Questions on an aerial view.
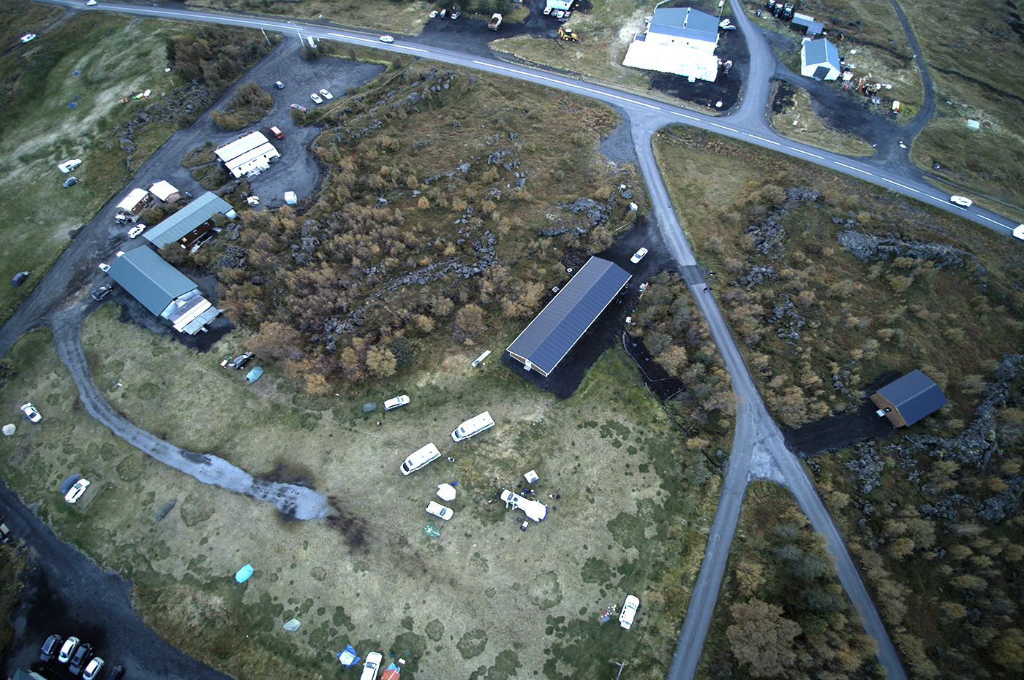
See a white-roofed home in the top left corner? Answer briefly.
Yes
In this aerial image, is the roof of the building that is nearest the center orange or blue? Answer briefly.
blue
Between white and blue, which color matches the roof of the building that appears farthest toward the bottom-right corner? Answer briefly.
blue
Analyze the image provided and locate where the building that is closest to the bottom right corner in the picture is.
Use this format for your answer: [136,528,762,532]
[874,369,950,430]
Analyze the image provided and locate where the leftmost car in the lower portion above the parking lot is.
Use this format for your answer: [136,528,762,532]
[15,394,43,426]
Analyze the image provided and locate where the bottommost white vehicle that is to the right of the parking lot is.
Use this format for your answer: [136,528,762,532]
[361,652,381,680]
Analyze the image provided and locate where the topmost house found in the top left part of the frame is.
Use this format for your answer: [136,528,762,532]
[214,130,284,179]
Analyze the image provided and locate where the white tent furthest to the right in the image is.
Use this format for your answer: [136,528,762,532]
[522,497,548,523]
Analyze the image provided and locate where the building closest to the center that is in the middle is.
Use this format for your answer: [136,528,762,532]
[506,256,631,381]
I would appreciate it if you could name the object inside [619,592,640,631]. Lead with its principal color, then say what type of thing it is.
white vehicle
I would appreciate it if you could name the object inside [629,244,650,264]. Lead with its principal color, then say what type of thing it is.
white car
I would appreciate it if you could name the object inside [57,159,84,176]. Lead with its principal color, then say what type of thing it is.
white camper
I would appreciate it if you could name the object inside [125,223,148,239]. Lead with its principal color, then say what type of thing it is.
white car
